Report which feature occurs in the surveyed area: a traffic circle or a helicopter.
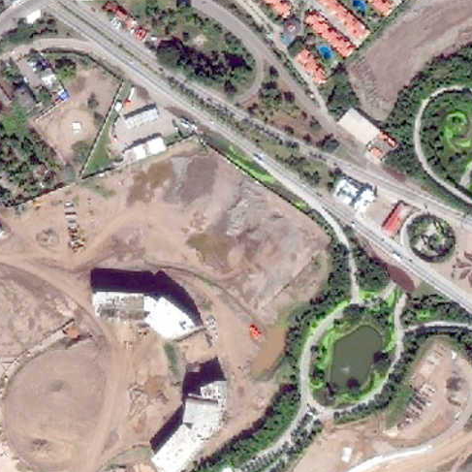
traffic circle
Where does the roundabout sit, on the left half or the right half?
right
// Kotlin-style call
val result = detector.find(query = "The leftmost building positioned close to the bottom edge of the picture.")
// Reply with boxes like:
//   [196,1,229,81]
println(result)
[151,423,203,472]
